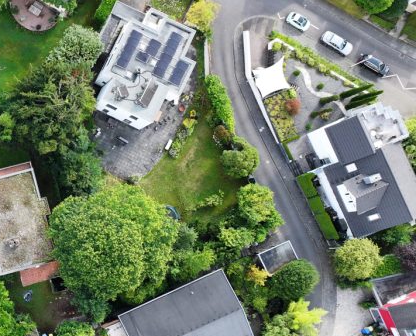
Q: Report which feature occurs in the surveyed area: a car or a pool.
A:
car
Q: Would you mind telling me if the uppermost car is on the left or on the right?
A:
right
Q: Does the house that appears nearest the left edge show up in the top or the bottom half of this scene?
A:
bottom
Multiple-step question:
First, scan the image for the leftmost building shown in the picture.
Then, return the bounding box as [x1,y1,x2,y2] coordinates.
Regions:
[0,163,59,287]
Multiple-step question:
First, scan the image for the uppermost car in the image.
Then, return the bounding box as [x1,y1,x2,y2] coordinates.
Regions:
[284,12,312,33]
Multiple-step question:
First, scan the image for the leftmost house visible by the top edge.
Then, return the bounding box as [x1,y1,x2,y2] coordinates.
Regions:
[96,1,196,129]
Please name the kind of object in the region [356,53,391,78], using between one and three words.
car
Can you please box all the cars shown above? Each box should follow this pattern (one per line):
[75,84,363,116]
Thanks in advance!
[284,12,312,33]
[317,29,355,55]
[356,53,391,78]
